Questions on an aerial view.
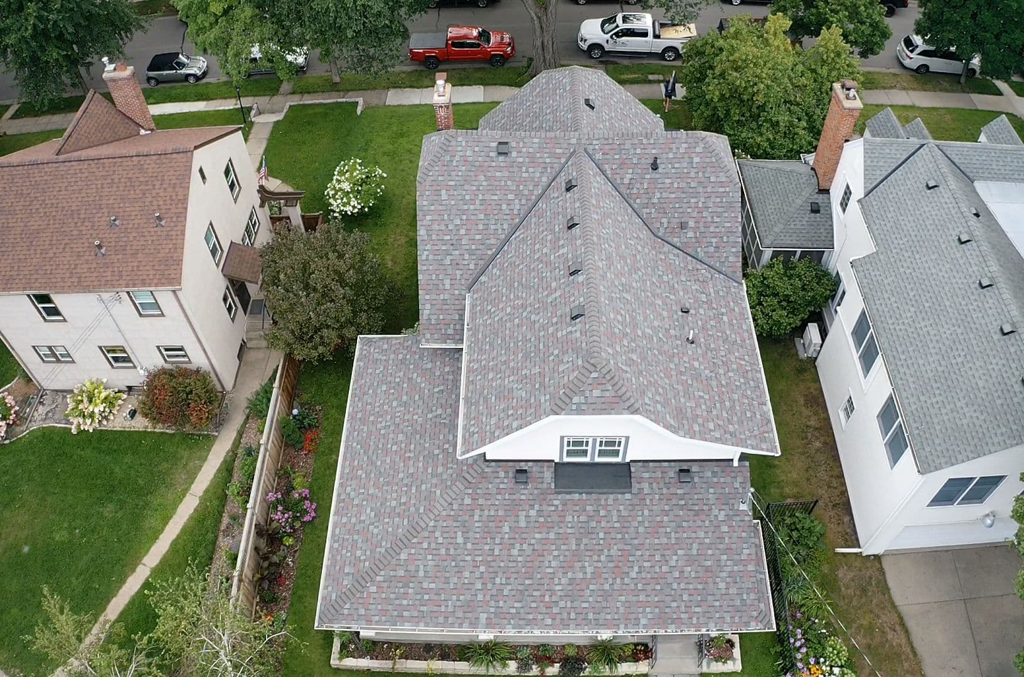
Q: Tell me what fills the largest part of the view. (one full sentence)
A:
The scene is dominated by buildings.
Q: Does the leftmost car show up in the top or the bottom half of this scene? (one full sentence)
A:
Seen from above, the leftmost car lies in the top half of the view.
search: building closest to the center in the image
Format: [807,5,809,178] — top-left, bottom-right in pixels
[308,59,786,648]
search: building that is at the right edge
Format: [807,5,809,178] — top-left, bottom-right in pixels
[739,71,1024,555]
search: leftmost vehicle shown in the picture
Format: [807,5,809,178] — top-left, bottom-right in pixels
[139,51,205,85]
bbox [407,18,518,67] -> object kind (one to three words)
truck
